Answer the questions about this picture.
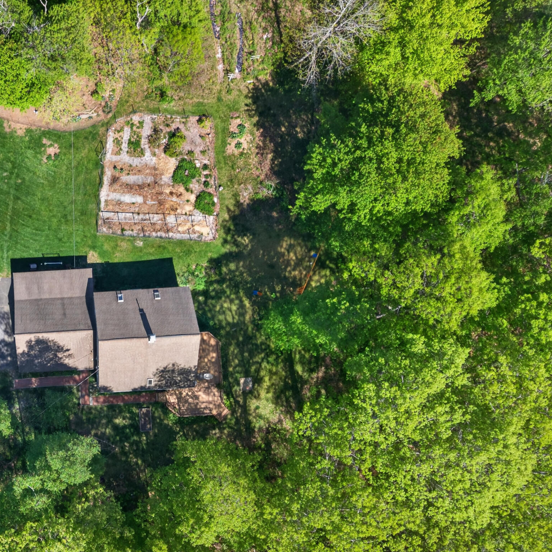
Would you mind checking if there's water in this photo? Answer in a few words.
No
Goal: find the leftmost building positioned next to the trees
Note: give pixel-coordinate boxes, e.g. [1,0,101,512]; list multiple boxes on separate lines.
[10,268,94,373]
